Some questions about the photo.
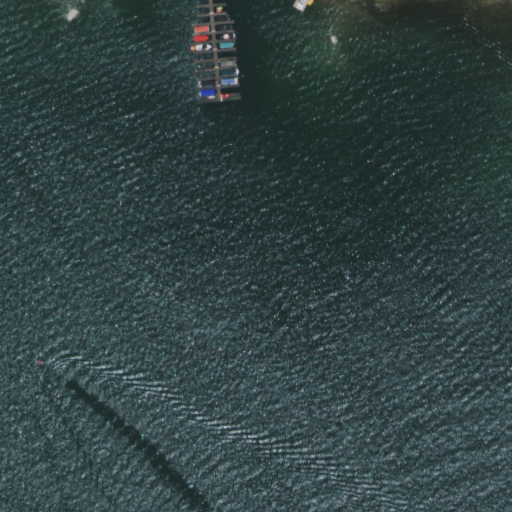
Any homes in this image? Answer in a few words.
No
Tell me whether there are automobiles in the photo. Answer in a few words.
No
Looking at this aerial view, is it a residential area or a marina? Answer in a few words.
marina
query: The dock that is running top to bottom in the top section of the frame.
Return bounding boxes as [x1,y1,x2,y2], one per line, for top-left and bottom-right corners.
[191,0,241,104]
